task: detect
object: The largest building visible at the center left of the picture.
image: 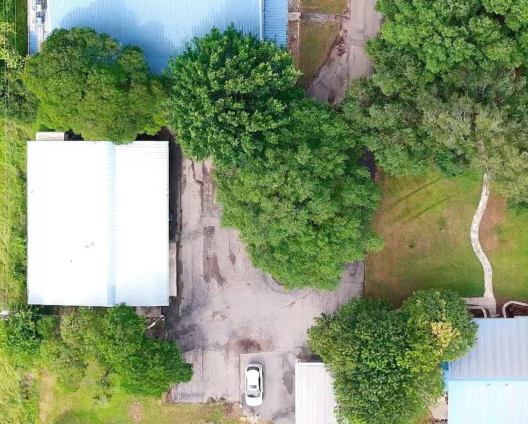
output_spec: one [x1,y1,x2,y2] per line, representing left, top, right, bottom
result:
[26,140,183,309]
